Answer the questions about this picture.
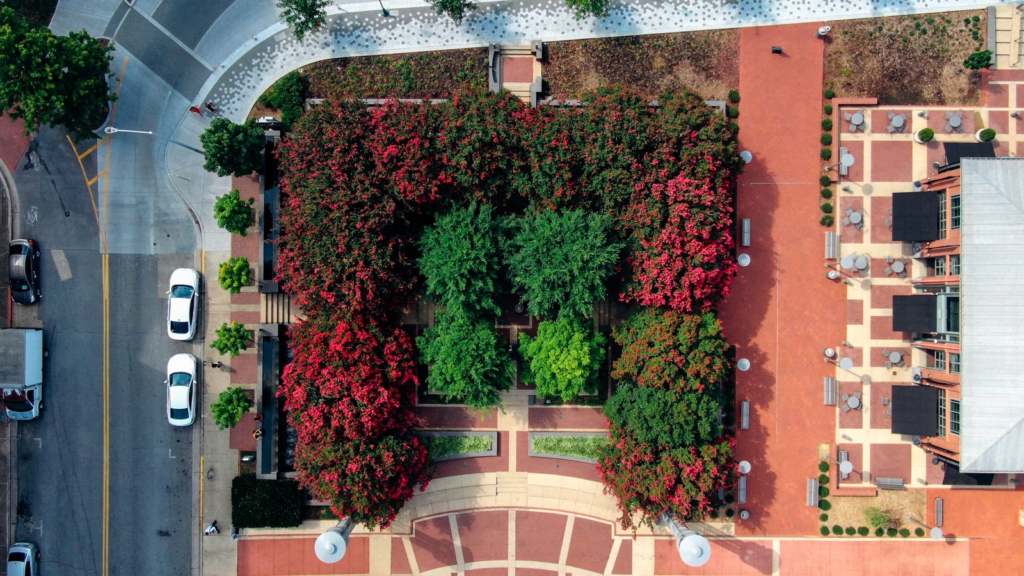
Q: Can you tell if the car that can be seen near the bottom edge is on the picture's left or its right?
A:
left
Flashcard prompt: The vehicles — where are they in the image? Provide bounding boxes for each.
[1,237,40,304]
[5,544,40,576]
[0,323,51,420]
[160,354,197,427]
[161,268,198,340]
